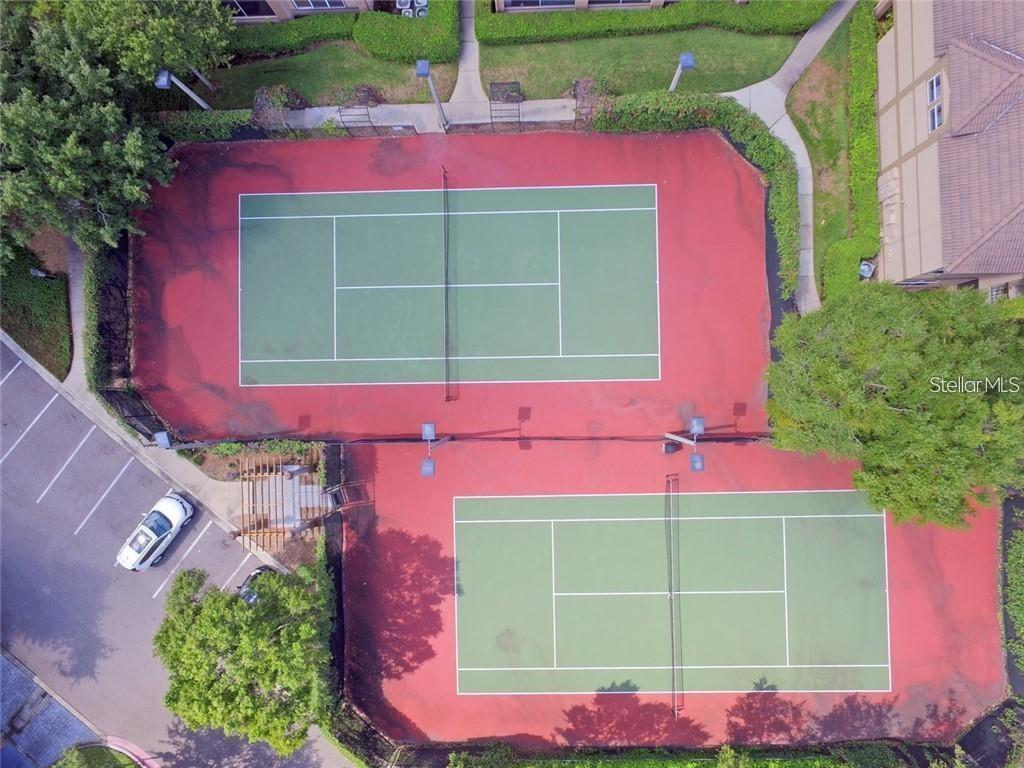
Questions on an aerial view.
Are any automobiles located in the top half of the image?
No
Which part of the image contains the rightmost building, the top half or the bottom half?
top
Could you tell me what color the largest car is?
white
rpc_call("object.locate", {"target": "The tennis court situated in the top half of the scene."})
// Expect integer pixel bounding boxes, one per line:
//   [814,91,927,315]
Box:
[130,129,773,440]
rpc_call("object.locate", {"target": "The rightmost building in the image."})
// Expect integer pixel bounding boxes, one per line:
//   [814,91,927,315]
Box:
[873,0,1024,291]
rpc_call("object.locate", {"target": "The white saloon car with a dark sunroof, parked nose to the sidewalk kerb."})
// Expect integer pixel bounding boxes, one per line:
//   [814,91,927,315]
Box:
[119,491,192,572]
